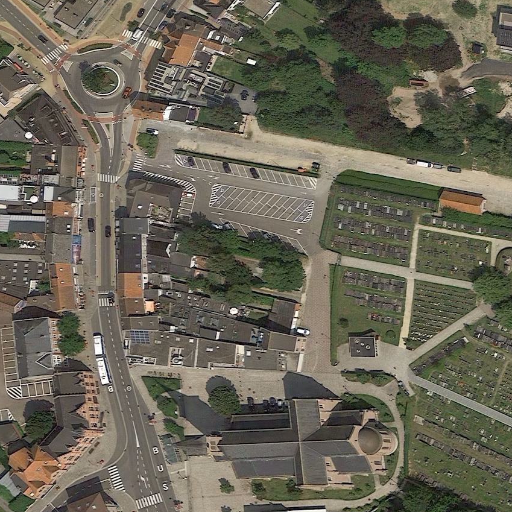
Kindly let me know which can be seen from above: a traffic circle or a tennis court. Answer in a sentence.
Of the two, only a traffic circle appears.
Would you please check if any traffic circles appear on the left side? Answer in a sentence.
Yes, looking on the left side, one can make out a traffic circle.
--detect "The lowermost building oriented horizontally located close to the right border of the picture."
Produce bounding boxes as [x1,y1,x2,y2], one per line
[439,190,489,214]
